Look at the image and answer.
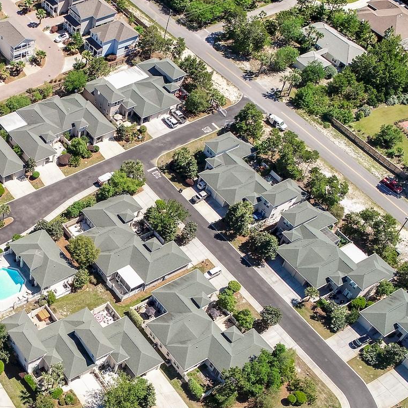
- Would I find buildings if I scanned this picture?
Yes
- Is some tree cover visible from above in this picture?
Yes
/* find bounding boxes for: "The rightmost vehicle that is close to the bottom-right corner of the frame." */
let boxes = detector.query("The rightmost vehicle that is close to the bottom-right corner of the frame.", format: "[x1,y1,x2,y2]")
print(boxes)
[348,333,372,349]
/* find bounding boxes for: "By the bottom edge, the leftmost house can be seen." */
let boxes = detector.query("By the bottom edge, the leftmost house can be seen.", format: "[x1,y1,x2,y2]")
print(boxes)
[0,299,165,400]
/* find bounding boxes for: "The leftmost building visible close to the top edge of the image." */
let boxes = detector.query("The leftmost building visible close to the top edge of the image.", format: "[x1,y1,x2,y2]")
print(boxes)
[0,13,36,64]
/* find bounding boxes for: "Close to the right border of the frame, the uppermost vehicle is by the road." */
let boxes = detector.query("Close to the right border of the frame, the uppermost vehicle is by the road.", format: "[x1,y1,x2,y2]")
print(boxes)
[378,179,404,194]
